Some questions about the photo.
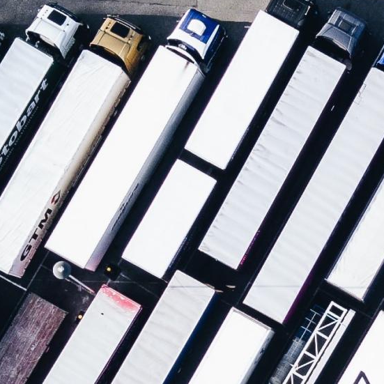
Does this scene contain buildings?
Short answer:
No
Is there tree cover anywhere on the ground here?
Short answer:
No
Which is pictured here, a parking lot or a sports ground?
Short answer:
parking lot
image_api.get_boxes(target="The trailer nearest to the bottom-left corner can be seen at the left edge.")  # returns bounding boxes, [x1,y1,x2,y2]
[0,295,68,384]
